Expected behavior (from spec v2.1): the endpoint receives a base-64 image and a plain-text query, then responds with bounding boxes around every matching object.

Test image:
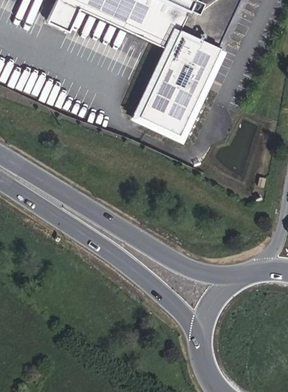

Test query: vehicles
[270,274,282,280]
[102,24,116,46]
[8,66,22,88]
[150,290,163,300]
[24,69,39,94]
[24,200,36,209]
[86,108,96,123]
[190,337,200,348]
[0,56,6,71]
[80,16,96,40]
[112,28,126,50]
[72,11,85,32]
[38,78,54,102]
[70,100,80,116]
[62,96,72,112]
[92,20,106,42]
[23,0,43,32]
[94,111,104,126]
[100,116,110,128]
[46,81,62,106]
[102,212,113,222]
[12,0,31,28]
[77,103,88,118]
[15,66,32,91]
[31,72,47,97]
[54,88,68,109]
[0,58,15,82]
